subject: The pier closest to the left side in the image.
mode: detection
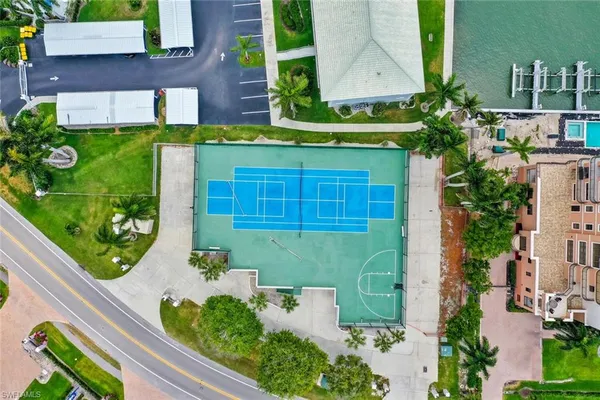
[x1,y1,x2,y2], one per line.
[530,60,546,113]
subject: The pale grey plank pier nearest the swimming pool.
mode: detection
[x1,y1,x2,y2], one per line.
[571,61,589,113]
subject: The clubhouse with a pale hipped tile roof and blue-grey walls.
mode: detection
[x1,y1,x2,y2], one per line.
[312,0,425,113]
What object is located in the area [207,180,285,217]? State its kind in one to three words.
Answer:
sports court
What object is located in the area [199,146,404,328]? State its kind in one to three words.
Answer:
tennis court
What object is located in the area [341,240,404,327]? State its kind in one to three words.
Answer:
basketball court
